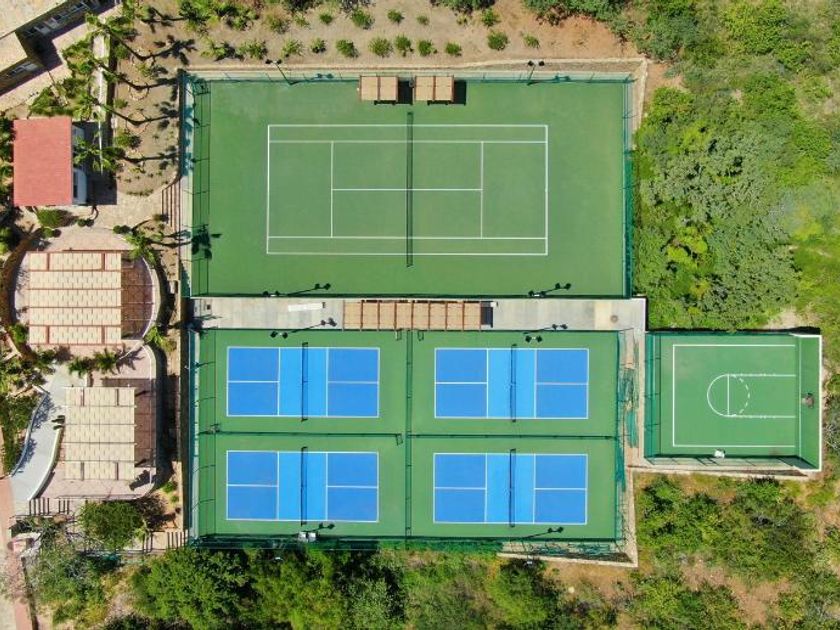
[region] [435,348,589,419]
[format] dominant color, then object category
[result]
blue sports court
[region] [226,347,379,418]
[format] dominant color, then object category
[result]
blue sports court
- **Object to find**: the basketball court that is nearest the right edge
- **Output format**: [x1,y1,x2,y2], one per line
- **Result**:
[646,334,799,459]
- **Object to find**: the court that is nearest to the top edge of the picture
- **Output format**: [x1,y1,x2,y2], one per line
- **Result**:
[194,82,624,296]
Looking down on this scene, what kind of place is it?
sports ground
